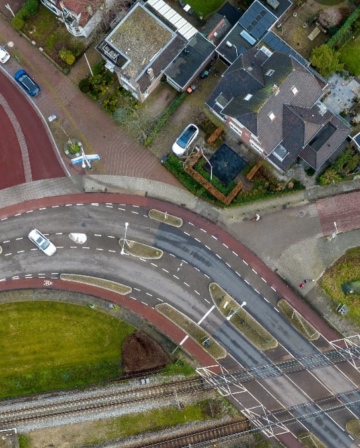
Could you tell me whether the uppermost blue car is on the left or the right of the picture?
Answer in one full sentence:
The uppermost blue car sits on the left side.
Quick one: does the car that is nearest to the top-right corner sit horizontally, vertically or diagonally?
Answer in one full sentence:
In this picture, the car that is nearest to the top-right corner is oriented diagonally.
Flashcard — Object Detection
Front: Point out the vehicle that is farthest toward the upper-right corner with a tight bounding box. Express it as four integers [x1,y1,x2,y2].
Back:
[173,124,199,155]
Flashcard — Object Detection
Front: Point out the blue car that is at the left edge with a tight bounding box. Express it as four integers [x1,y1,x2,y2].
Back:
[13,69,41,98]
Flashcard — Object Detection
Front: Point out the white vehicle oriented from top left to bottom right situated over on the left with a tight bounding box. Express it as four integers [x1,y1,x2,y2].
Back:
[27,229,58,256]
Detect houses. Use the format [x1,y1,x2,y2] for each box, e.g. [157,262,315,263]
[205,41,352,177]
[41,0,127,46]
[95,0,188,103]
